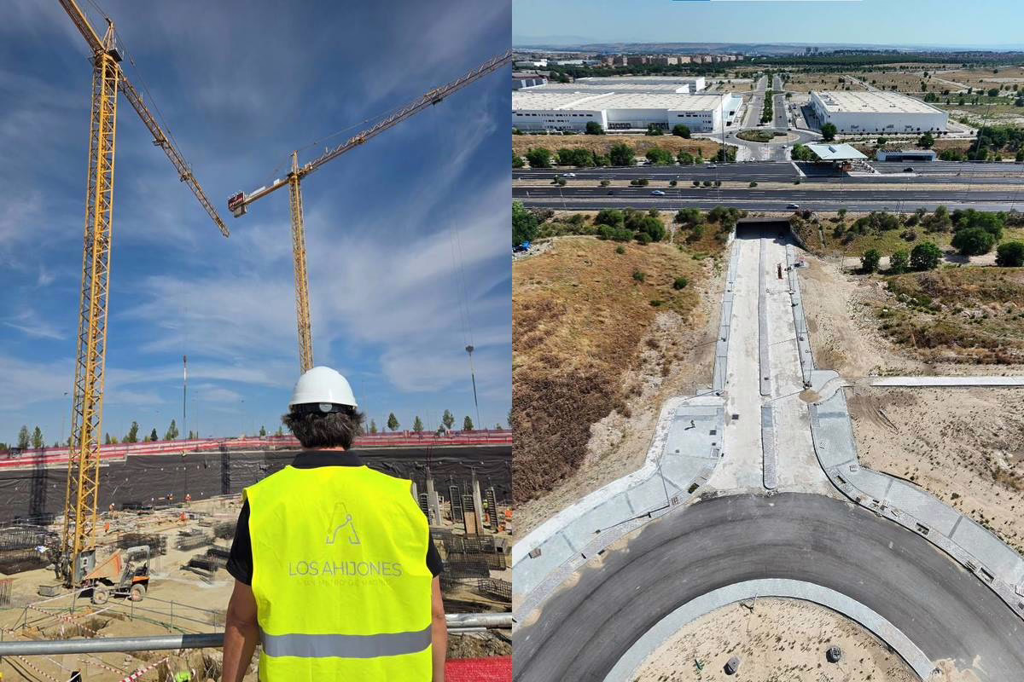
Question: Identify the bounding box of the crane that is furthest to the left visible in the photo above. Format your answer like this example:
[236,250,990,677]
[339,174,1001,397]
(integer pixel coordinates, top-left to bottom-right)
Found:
[50,0,234,593]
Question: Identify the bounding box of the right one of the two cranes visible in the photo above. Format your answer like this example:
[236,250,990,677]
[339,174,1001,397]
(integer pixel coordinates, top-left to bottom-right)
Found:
[225,46,511,451]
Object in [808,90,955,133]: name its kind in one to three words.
building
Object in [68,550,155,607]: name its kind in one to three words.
truck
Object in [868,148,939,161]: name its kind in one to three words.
building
